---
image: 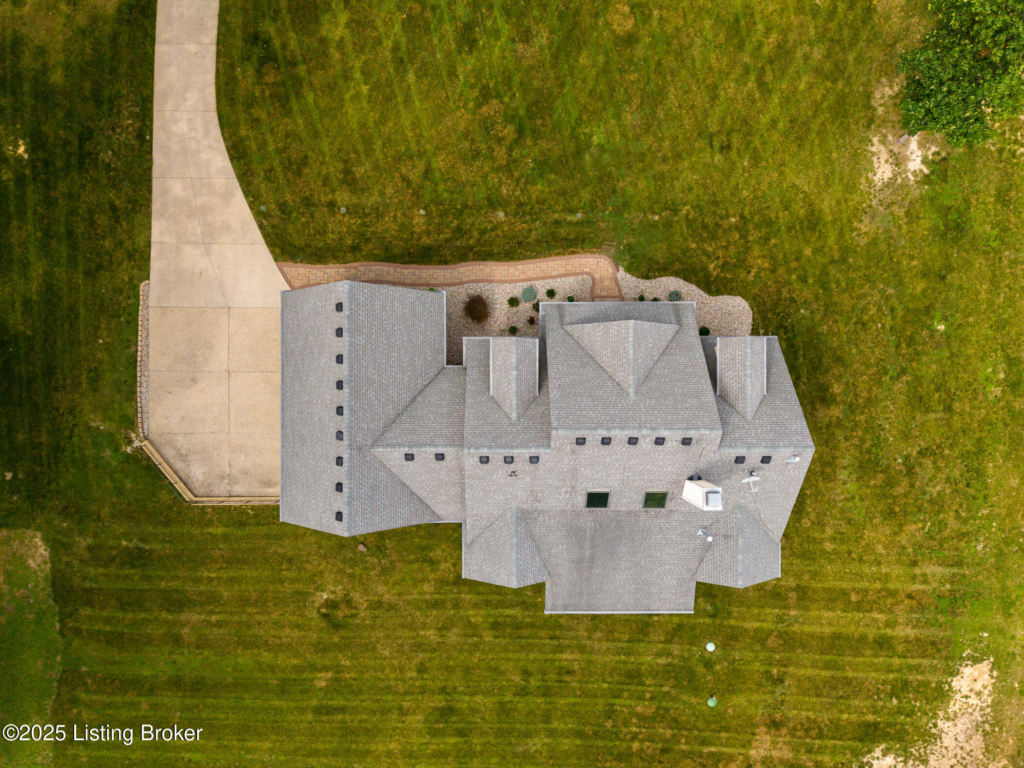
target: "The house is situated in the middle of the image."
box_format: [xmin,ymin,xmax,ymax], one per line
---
[279,280,815,614]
